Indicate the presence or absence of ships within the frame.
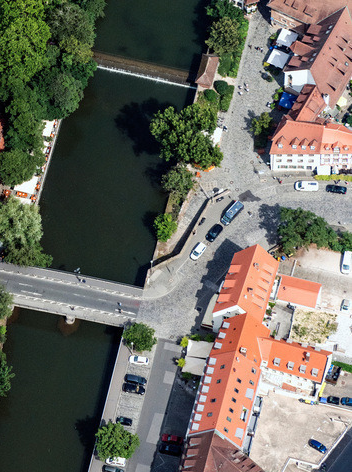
No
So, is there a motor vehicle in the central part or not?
Yes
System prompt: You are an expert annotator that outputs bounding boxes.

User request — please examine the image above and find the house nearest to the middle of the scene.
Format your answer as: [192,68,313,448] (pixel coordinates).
[212,245,278,331]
